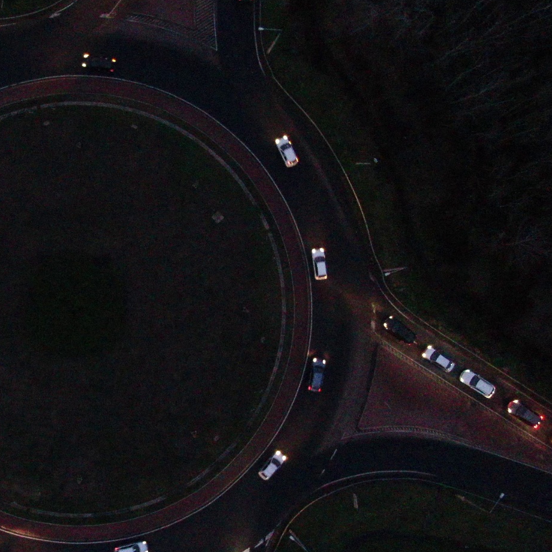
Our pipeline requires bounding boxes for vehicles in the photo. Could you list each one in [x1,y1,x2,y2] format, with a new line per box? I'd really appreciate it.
[383,317,416,344]
[422,346,455,372]
[260,451,284,480]
[116,541,146,552]
[307,360,325,389]
[274,137,296,168]
[509,402,540,426]
[84,54,114,72]
[460,370,494,397]
[309,247,327,281]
